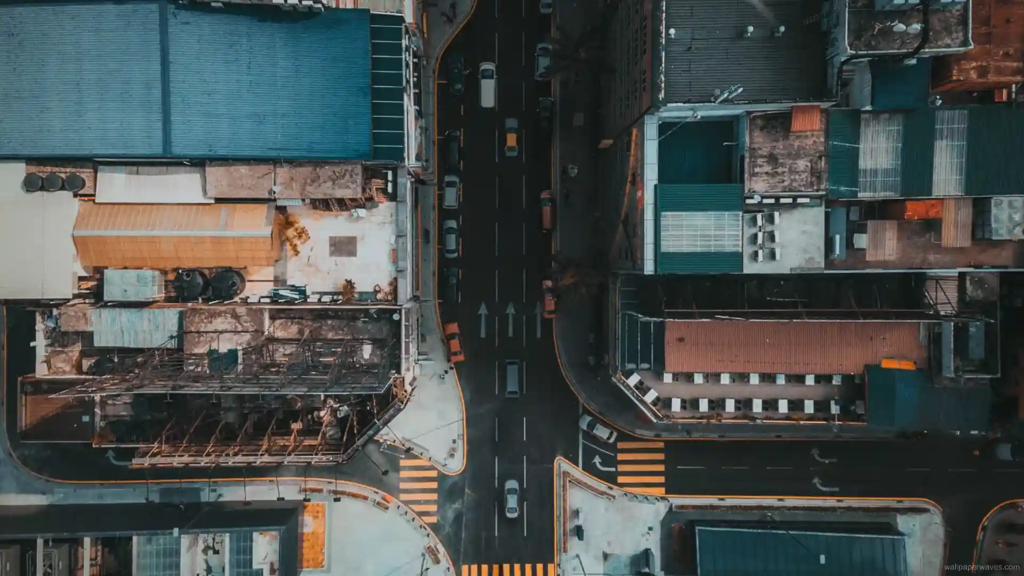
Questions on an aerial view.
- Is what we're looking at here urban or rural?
urban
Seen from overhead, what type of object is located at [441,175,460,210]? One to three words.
car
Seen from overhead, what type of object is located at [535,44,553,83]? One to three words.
car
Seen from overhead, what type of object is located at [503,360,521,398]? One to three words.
vehicle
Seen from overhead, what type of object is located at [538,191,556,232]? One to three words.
vehicle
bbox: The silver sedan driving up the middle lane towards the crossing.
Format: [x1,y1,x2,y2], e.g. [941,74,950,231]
[502,479,521,518]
